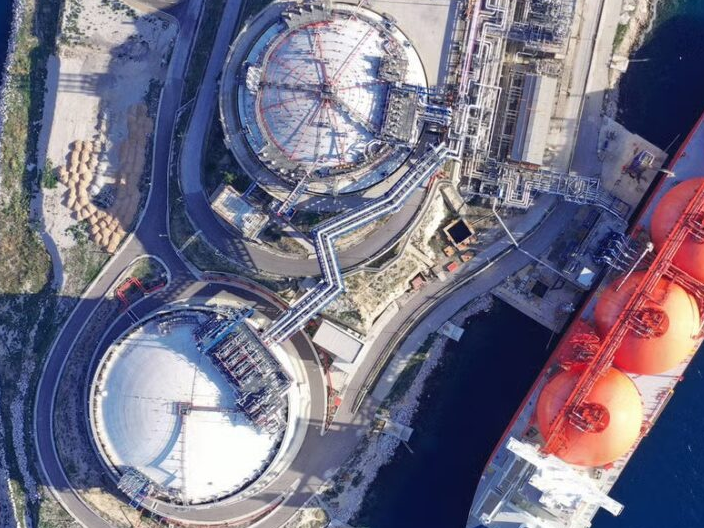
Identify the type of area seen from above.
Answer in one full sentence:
What you see here is an industrial area.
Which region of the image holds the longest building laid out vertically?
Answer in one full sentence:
The longest building laid out vertically is located in the top right region of the scene.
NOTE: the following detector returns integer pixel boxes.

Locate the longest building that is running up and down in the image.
[511,73,558,167]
